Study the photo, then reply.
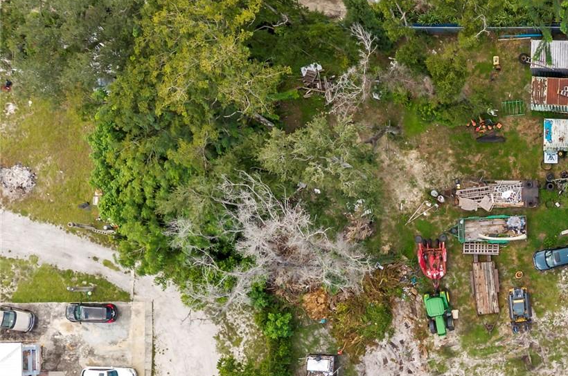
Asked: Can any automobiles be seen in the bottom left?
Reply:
Yes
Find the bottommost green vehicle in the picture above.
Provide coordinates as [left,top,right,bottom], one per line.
[424,297,452,340]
